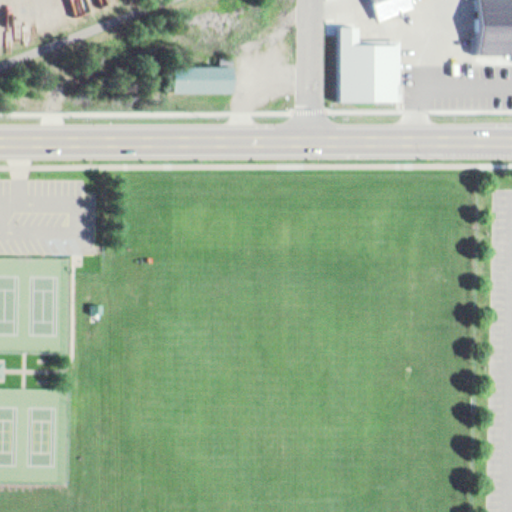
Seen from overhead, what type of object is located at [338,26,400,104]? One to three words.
building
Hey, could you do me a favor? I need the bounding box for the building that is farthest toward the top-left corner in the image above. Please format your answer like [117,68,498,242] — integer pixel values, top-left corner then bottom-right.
[174,66,236,94]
